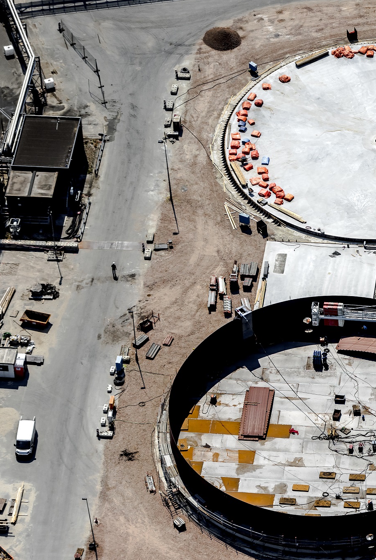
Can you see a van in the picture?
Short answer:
Yes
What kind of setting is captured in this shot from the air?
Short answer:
industrial area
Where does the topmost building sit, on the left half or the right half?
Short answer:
left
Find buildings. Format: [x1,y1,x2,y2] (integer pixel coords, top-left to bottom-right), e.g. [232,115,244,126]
[4,113,84,232]
[0,346,18,381]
